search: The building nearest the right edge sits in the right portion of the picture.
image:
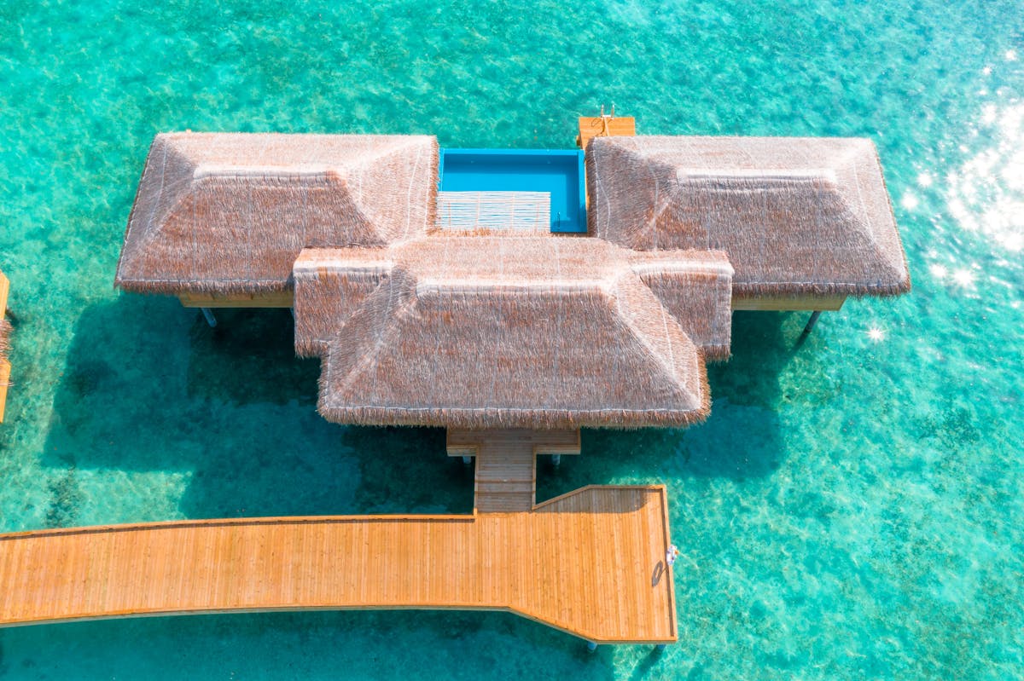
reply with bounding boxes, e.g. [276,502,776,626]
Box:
[582,135,911,341]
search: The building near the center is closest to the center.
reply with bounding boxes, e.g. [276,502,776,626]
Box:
[292,232,733,430]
